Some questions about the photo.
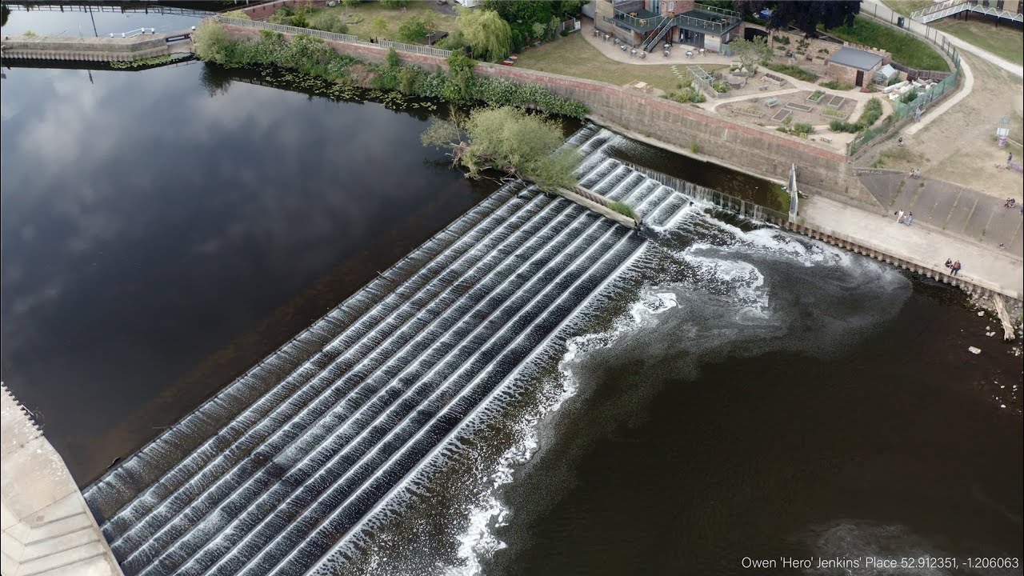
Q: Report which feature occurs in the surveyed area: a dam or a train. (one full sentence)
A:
This aerial view contains a dam.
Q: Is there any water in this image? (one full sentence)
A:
Yes, water can be seen from above here.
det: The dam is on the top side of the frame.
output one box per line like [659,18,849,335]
[552,123,689,229]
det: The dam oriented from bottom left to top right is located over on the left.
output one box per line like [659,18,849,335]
[80,180,644,576]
